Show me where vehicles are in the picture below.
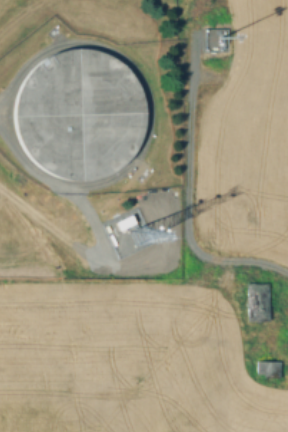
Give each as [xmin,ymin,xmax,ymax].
[106,224,113,234]
[110,235,118,246]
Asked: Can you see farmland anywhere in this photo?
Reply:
Yes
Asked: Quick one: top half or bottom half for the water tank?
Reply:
top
